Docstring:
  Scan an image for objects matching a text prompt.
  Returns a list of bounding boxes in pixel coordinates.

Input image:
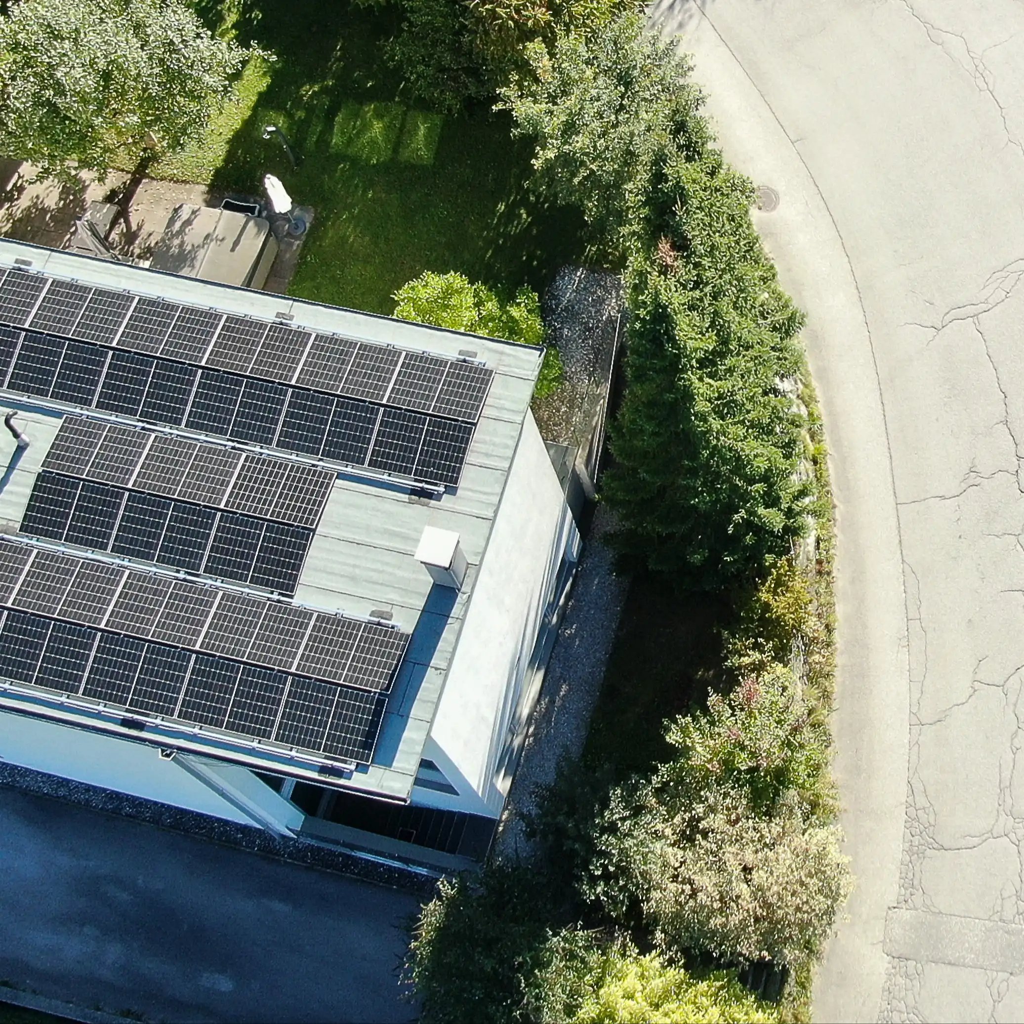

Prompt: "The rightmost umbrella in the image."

[261,167,306,235]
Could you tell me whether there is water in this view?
No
